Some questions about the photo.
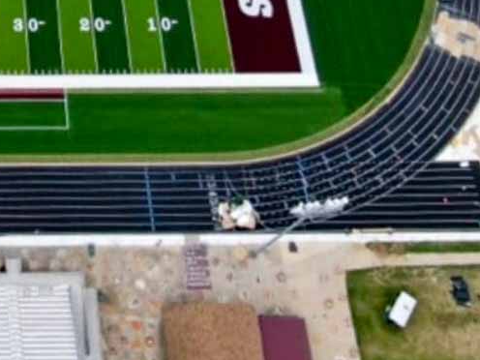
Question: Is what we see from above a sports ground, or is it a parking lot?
sports ground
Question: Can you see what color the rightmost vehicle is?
black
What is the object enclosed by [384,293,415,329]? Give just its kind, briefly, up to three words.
trailer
